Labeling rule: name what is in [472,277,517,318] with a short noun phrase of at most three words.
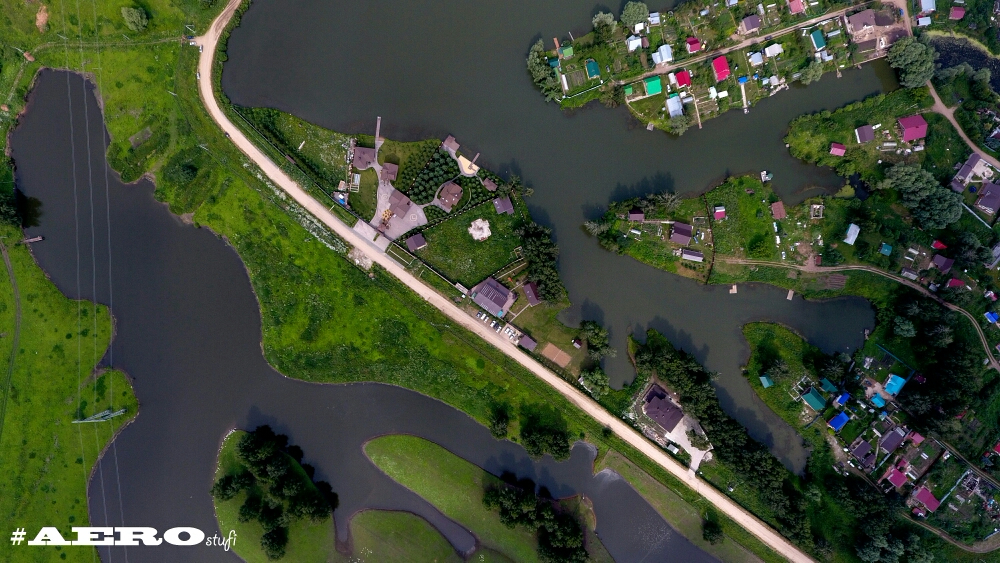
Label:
building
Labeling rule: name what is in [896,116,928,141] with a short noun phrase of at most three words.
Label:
house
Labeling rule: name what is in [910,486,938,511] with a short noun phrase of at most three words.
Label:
house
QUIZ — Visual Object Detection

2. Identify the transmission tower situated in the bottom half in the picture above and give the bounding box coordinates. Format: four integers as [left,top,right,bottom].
[77,408,128,421]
